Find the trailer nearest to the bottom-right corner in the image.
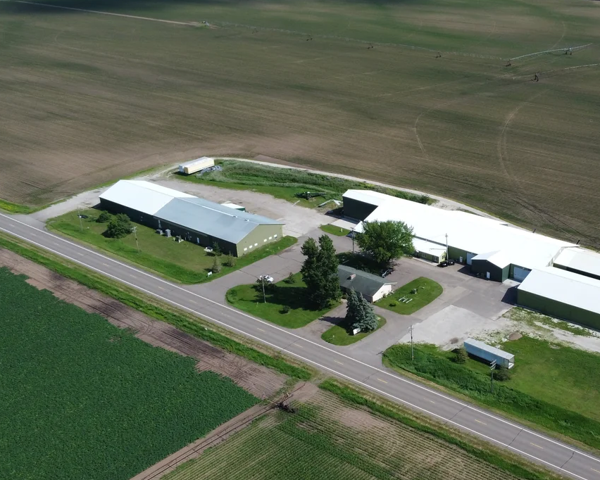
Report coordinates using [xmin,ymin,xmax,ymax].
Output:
[460,332,515,366]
